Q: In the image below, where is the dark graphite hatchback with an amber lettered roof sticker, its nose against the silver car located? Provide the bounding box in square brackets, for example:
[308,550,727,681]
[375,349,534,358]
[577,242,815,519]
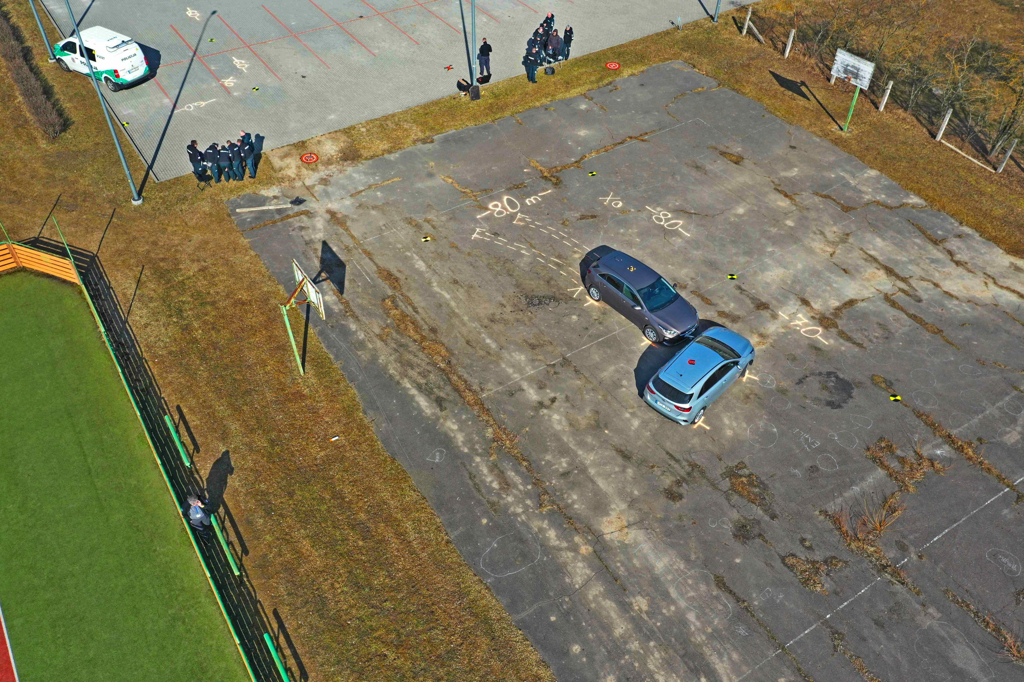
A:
[585,251,702,344]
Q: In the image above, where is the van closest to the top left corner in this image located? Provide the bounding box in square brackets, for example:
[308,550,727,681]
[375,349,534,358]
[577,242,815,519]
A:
[58,28,153,91]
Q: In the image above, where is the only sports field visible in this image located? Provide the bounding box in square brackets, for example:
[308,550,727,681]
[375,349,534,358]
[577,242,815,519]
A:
[0,267,243,682]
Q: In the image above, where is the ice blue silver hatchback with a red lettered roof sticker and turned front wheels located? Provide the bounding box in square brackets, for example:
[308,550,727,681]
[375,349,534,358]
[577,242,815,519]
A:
[642,328,754,426]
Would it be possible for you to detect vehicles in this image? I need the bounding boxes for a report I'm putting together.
[642,328,754,426]
[58,28,153,91]
[585,251,702,344]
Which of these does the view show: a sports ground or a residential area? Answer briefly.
sports ground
